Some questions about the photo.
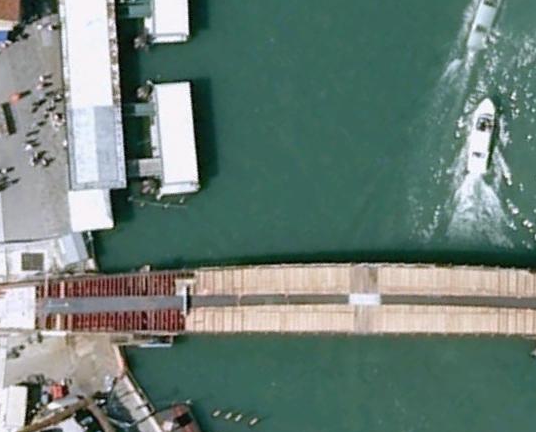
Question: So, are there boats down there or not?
Yes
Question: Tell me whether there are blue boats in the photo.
No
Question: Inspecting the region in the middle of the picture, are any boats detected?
No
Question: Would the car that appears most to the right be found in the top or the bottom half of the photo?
bottom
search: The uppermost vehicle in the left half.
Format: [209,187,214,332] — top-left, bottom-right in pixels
[34,385,59,403]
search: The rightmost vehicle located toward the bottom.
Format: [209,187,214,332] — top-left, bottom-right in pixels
[77,409,101,432]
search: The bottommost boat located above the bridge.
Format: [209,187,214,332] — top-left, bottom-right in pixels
[466,99,495,174]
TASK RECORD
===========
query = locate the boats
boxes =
[466,0,502,52]
[466,99,495,174]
